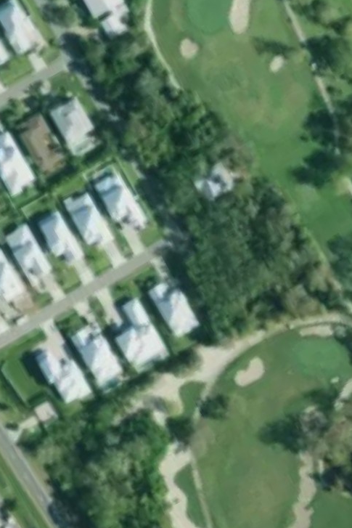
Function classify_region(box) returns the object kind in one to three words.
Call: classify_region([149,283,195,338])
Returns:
house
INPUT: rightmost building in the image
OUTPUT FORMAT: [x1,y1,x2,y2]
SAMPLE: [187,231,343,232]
[193,162,235,198]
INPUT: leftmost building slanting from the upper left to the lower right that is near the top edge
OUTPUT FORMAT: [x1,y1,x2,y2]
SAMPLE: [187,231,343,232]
[0,0,44,58]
